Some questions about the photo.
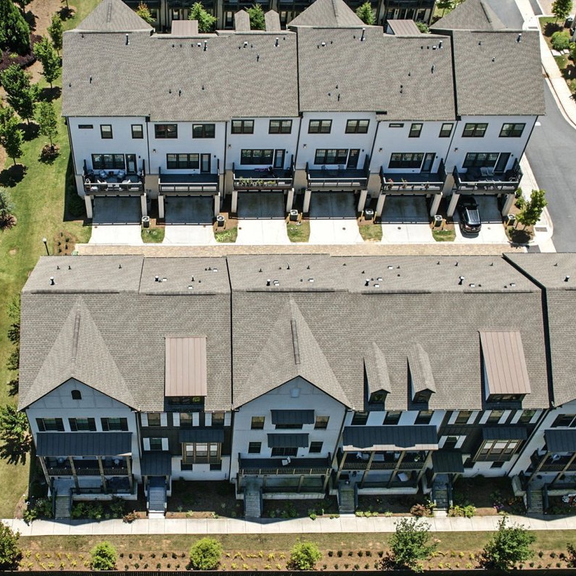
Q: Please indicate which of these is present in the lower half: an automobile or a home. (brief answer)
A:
home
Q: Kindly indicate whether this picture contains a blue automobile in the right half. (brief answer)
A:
No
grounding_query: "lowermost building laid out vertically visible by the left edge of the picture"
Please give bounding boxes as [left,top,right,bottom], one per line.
[16,253,143,516]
